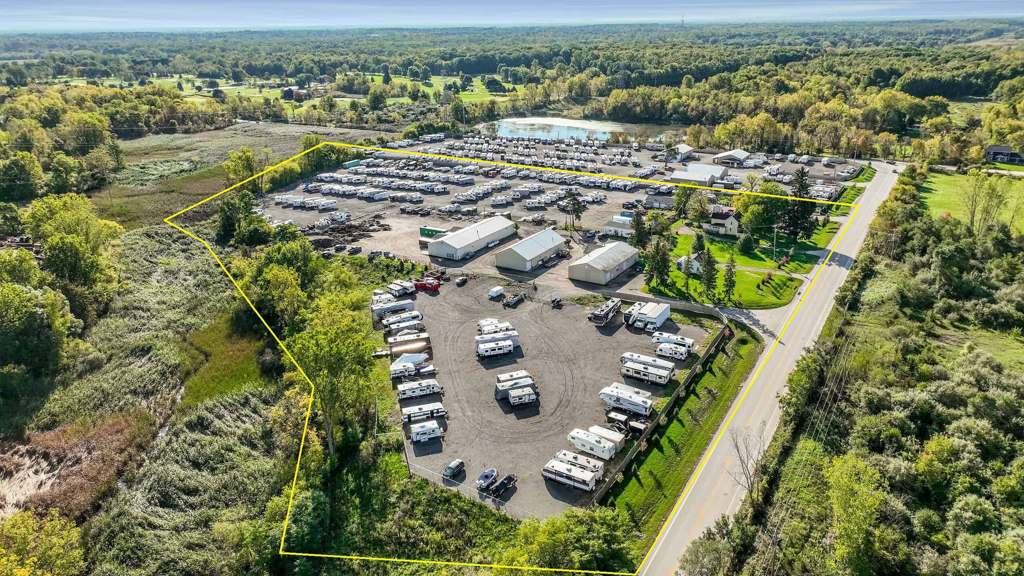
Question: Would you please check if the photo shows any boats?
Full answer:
Yes, I can see a boat in this picture.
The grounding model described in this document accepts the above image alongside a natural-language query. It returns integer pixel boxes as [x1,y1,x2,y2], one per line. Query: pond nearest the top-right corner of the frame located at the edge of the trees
[479,117,691,141]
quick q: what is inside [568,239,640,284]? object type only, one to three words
shed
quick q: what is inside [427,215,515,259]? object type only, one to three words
shed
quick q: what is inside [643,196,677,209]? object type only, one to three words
building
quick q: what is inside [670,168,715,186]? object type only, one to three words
building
